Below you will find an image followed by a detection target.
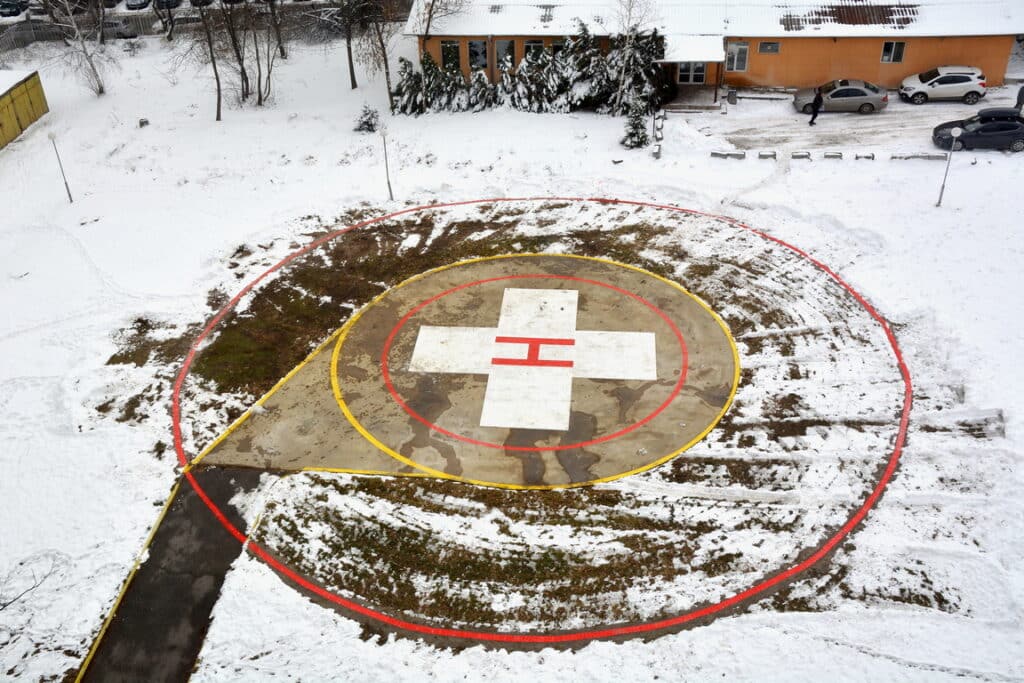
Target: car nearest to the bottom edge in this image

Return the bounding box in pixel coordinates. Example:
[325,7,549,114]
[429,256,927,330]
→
[934,113,1024,151]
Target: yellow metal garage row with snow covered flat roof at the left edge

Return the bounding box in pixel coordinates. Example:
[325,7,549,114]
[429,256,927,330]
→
[0,67,49,153]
